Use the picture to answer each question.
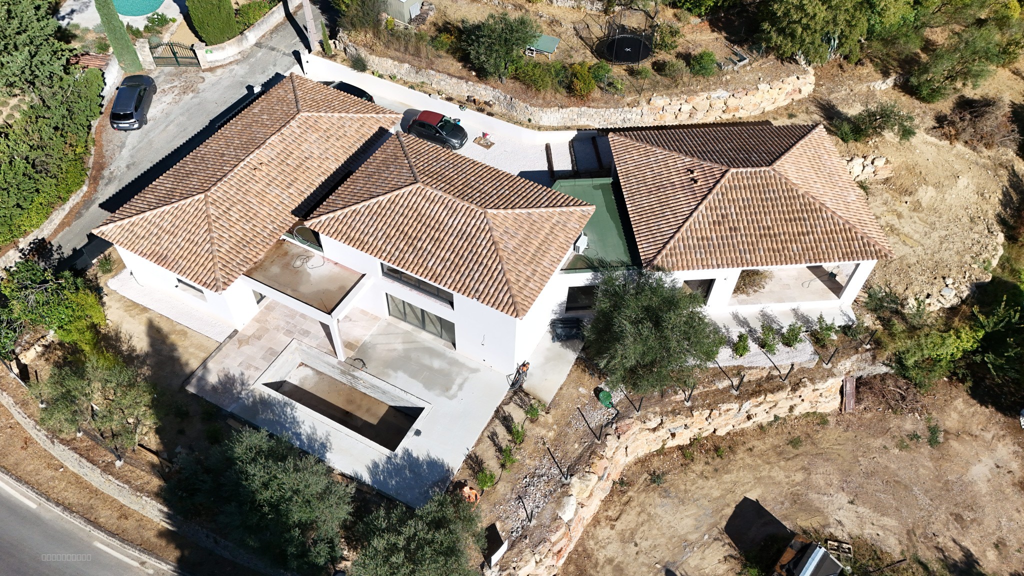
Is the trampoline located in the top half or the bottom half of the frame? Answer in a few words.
top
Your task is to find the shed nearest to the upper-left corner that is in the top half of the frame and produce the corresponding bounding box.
[70,53,124,90]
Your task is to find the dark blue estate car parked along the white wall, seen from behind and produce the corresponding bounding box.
[106,79,157,131]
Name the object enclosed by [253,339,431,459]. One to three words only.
swimming pool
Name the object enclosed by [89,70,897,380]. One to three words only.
house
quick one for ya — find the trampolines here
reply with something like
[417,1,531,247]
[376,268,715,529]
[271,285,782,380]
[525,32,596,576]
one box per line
[594,0,659,71]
